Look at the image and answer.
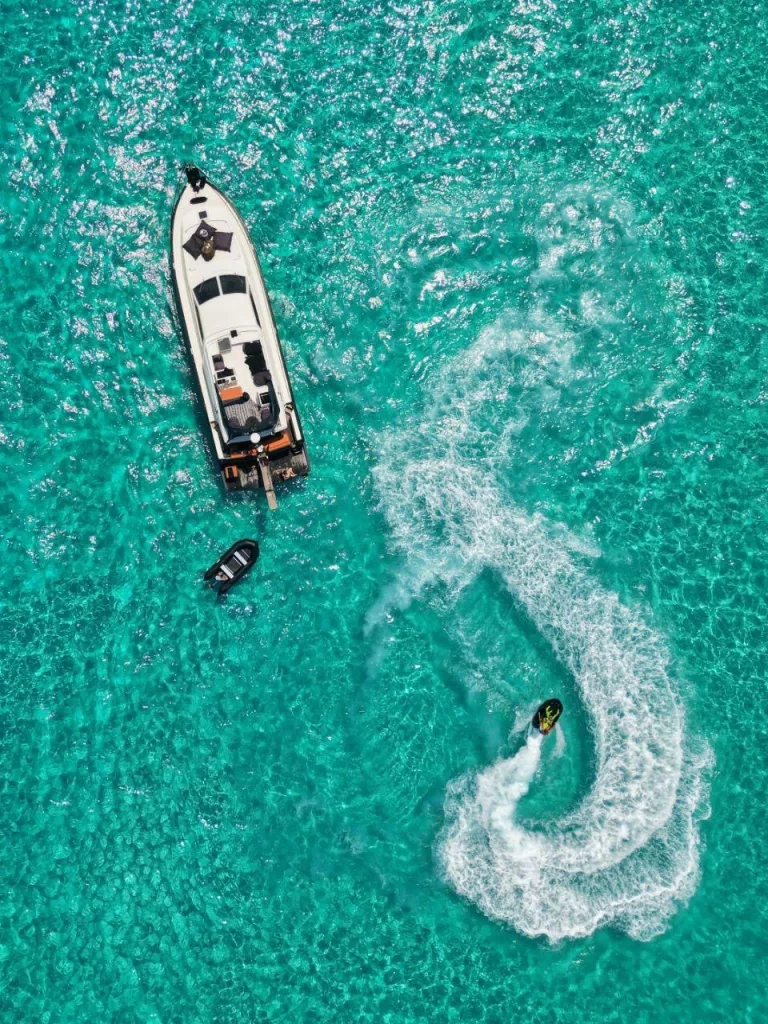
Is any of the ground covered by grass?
No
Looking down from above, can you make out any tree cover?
No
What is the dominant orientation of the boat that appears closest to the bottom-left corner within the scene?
on a diagonal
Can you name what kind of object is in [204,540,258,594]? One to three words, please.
boat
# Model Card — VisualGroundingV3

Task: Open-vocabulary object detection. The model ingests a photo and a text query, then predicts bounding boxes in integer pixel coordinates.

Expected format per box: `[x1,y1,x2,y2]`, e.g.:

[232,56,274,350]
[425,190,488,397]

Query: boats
[171,160,309,509]
[533,698,561,738]
[204,540,258,594]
